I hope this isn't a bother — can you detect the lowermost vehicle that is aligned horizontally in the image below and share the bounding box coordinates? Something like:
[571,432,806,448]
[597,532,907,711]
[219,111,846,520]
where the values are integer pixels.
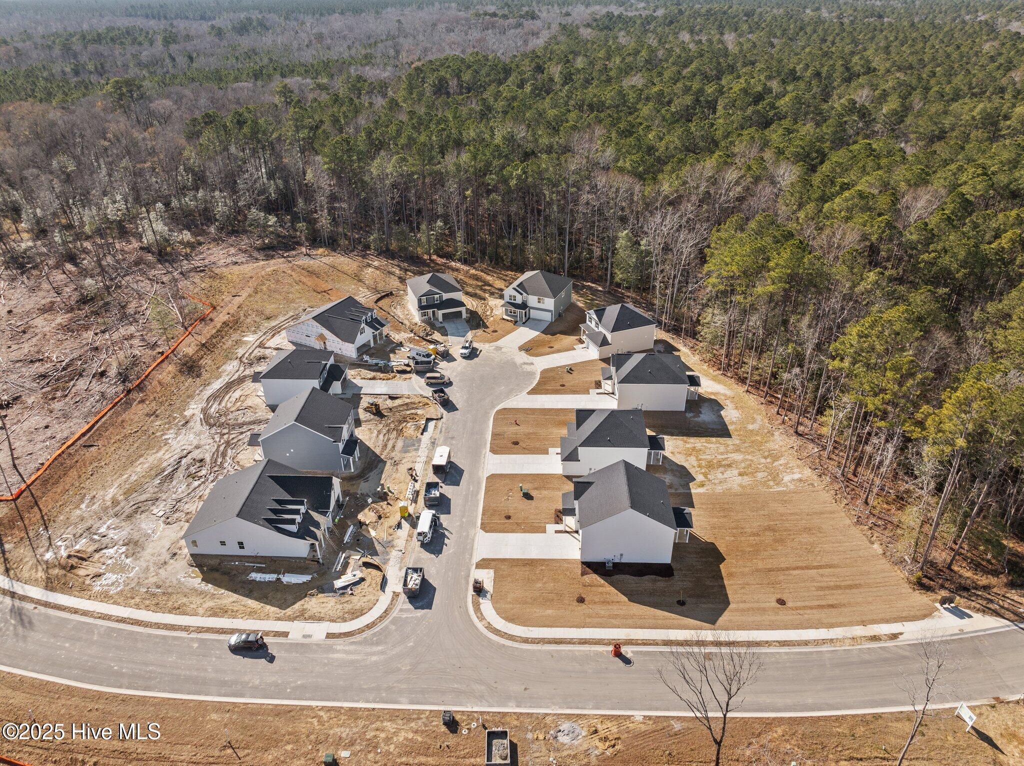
[223,633,267,655]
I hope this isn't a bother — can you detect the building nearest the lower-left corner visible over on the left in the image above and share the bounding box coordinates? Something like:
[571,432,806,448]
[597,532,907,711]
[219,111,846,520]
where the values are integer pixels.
[182,461,345,557]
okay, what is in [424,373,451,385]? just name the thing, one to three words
vehicle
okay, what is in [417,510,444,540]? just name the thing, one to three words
vehicle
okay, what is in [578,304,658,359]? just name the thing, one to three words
house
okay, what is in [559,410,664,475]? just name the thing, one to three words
house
